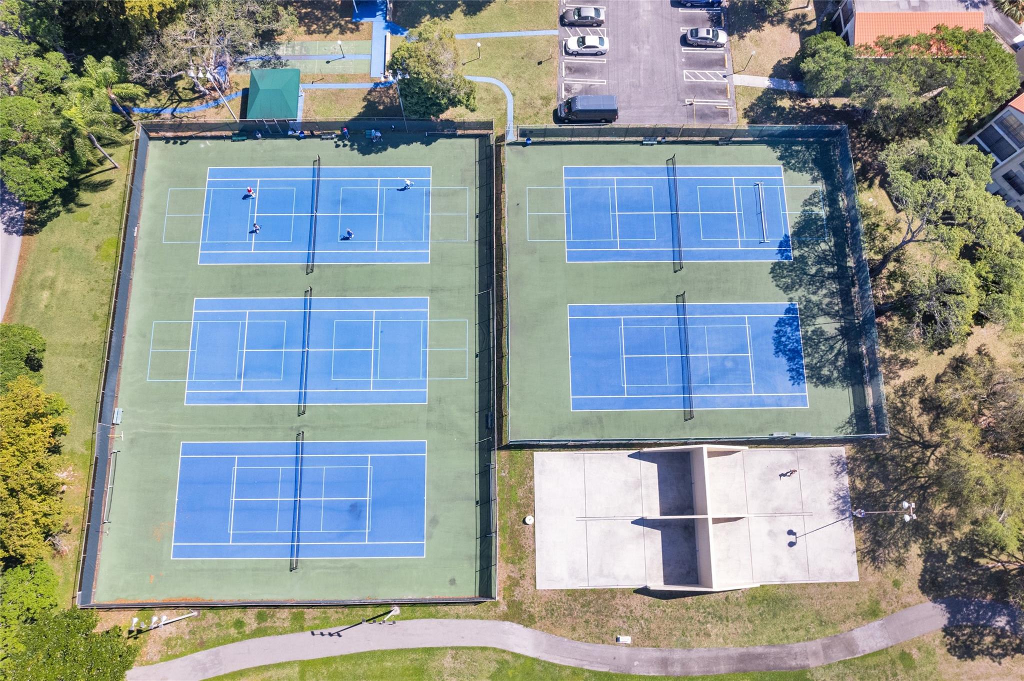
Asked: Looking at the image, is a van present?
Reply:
Yes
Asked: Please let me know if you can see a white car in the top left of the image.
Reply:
No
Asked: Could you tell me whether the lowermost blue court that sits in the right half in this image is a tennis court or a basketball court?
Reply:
tennis court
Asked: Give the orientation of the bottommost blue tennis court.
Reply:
from side to side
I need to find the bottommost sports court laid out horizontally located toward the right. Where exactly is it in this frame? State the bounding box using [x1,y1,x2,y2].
[534,447,859,589]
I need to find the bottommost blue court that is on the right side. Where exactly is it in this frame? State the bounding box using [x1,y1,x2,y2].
[568,303,808,410]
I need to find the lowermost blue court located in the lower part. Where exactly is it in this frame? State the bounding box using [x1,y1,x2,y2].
[171,440,426,559]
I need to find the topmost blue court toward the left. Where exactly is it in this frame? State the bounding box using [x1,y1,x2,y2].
[163,166,468,264]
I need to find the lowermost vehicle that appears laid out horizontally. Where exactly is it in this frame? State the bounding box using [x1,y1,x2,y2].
[556,94,616,122]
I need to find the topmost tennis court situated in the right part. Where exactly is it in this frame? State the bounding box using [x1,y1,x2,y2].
[528,166,827,262]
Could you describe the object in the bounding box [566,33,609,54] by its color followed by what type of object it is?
white car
